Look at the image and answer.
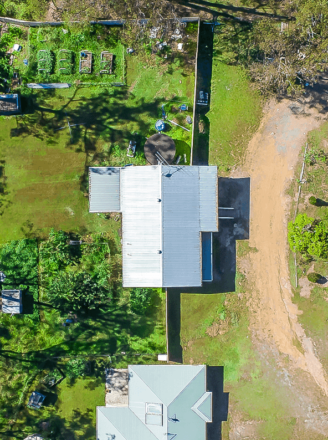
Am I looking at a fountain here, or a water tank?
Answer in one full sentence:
The image shows a water tank.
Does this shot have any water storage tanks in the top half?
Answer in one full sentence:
Yes, a water storage tank can be seen in the top half.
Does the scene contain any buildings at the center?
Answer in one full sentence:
Yes, I can see a building at the center.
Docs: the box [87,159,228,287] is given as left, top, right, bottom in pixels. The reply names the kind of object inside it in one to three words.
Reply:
house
